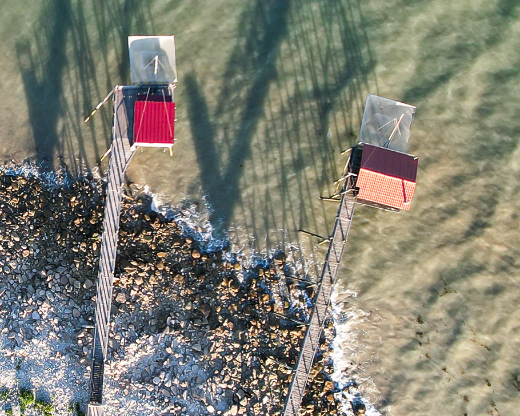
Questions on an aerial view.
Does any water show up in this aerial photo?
Yes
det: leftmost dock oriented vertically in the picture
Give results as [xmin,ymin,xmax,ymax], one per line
[81,80,182,416]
